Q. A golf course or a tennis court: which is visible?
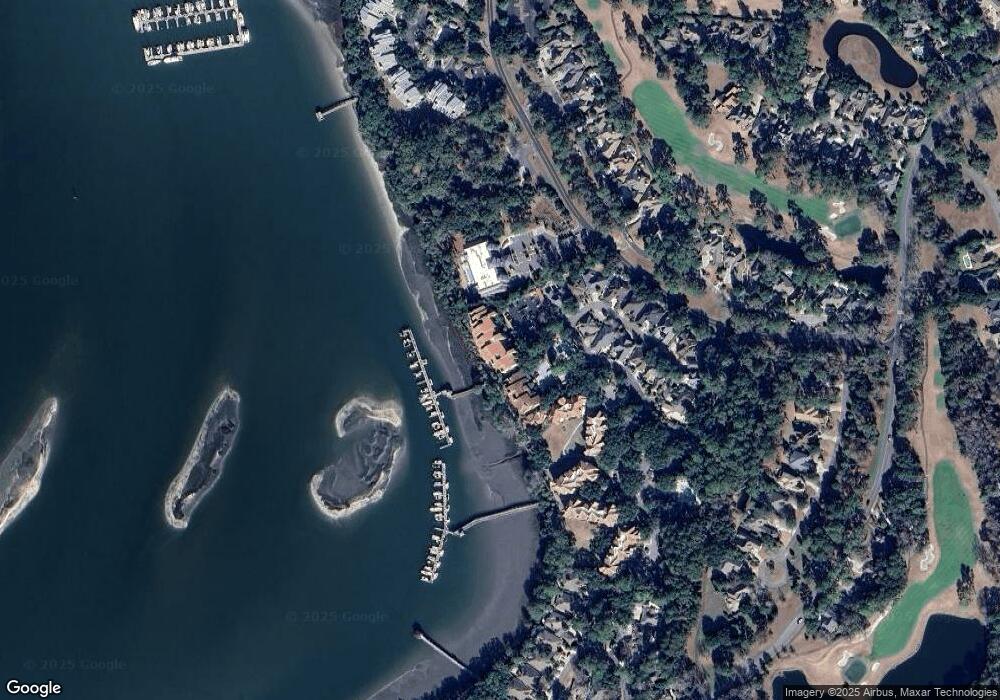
golf course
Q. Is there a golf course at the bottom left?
No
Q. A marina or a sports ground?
marina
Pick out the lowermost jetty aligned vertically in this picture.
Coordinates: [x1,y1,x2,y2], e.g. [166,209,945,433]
[422,463,450,581]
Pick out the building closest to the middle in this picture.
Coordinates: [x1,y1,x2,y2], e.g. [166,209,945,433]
[468,303,520,372]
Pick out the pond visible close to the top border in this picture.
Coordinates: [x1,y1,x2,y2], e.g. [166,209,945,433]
[823,21,917,88]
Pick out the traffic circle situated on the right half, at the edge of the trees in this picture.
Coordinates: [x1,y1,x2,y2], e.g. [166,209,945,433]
[760,558,788,590]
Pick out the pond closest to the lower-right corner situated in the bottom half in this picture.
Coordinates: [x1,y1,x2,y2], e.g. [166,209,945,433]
[866,614,992,700]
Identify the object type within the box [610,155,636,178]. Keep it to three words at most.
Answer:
house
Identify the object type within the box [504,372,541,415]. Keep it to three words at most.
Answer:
building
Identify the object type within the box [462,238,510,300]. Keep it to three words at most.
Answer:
building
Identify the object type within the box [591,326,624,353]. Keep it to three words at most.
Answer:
house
